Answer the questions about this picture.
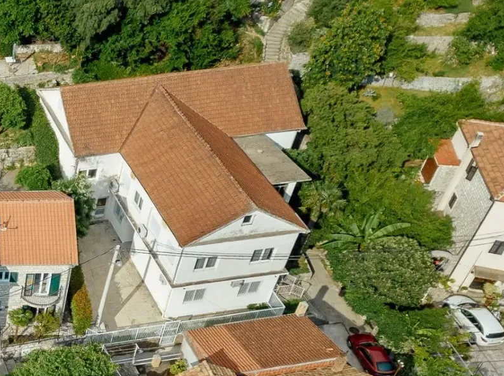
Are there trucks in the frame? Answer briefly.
No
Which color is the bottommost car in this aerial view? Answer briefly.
red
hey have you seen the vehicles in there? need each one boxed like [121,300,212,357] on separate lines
[448,302,504,350]
[342,334,407,376]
